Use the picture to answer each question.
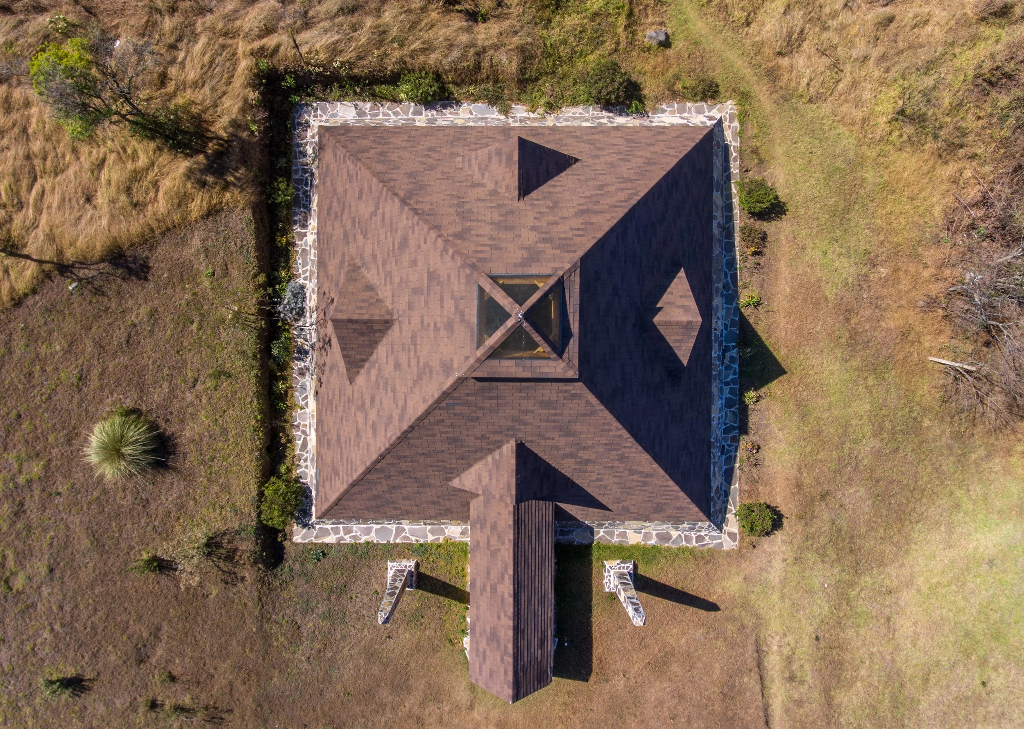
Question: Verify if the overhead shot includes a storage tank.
No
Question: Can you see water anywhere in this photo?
No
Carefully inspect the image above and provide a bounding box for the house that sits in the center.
[309,116,724,704]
